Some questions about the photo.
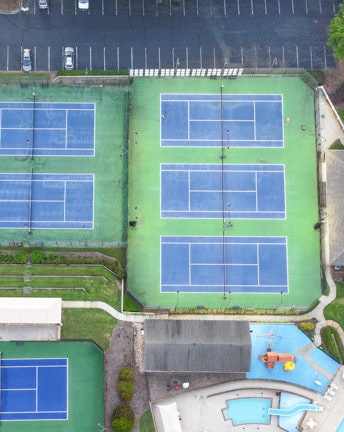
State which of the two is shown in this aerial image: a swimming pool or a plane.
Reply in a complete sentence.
Of the two, only a swimming pool appears.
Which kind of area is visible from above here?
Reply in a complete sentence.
This image shows a sports ground.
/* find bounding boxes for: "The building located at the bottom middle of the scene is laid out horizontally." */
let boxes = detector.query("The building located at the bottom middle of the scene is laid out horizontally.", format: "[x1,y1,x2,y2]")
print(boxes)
[144,319,251,373]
